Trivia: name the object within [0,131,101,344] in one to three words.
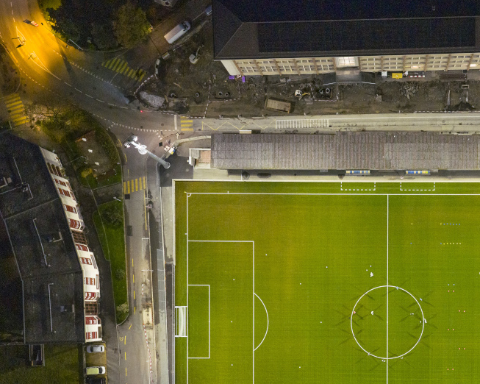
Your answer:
building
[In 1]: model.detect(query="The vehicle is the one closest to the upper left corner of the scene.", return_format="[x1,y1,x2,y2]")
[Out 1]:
[164,22,188,41]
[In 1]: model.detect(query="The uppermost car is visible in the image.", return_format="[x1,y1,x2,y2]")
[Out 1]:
[201,3,213,18]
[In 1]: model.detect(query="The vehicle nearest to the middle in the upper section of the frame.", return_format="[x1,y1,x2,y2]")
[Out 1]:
[266,97,293,114]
